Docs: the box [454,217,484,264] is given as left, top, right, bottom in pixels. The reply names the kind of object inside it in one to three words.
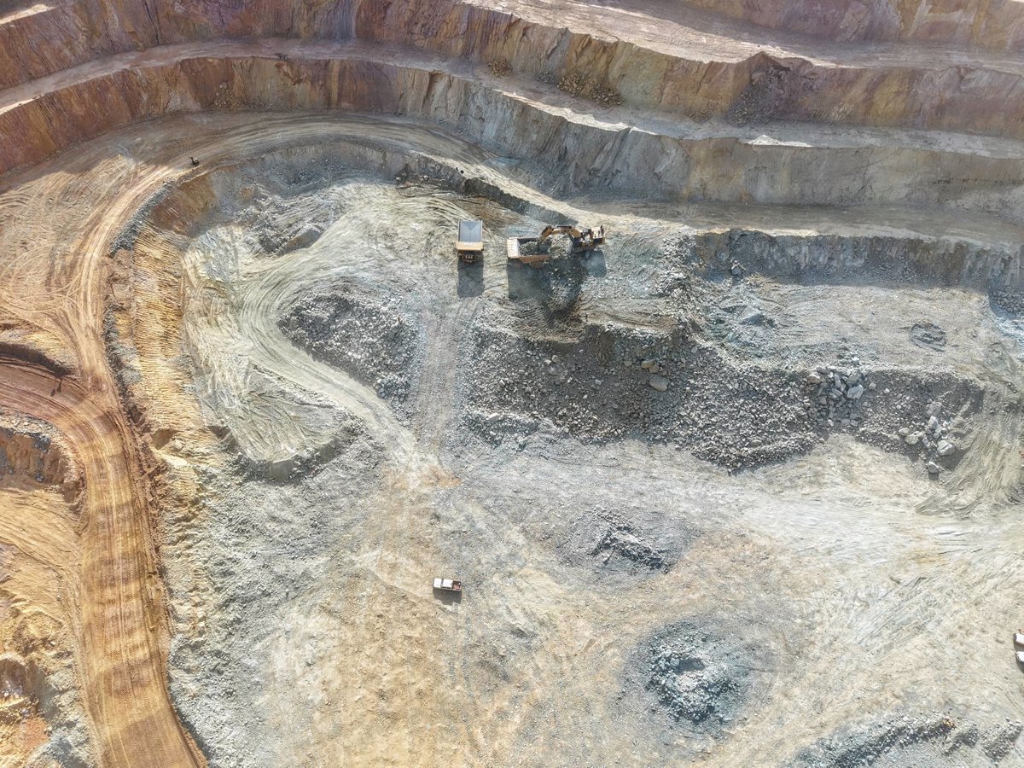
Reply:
truck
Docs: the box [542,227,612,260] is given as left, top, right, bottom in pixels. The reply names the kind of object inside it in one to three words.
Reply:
work vehicle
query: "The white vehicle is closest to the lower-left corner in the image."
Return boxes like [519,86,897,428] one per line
[433,579,462,592]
